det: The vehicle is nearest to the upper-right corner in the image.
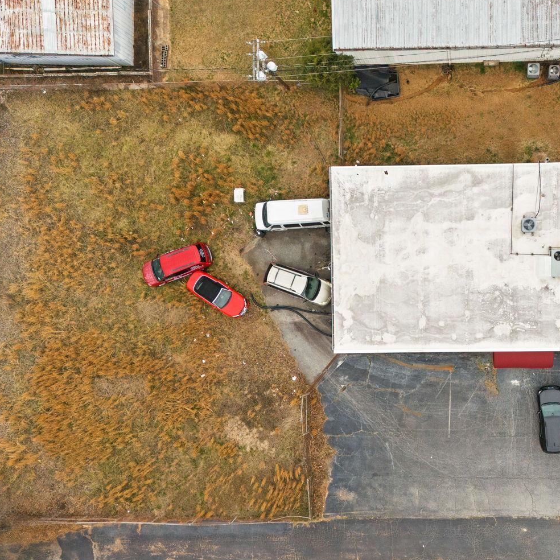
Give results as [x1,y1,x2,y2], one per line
[255,200,330,236]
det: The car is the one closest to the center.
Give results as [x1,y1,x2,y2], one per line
[261,264,330,308]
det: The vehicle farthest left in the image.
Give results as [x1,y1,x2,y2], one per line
[143,242,215,287]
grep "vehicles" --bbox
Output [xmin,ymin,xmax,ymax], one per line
[255,200,330,236]
[143,242,215,287]
[183,270,250,319]
[536,384,560,454]
[261,264,330,308]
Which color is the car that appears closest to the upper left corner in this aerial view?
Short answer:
red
